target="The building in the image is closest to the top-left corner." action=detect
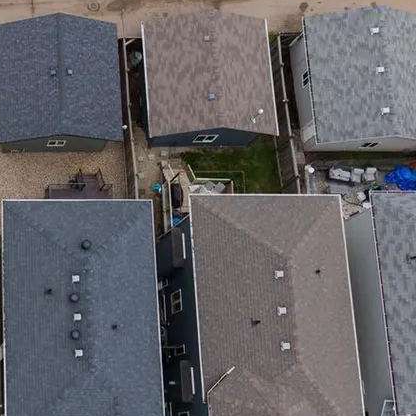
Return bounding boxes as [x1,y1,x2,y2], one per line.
[0,12,124,157]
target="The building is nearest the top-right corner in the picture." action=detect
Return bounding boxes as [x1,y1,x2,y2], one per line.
[285,2,416,156]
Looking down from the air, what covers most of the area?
buildings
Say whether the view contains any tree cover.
No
